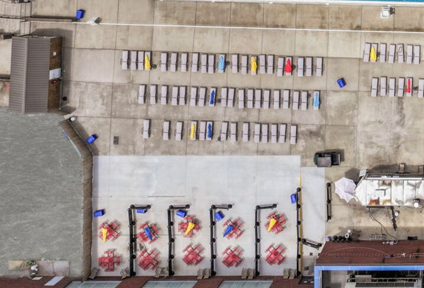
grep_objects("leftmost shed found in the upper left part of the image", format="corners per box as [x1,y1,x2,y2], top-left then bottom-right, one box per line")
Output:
[10,36,64,113]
